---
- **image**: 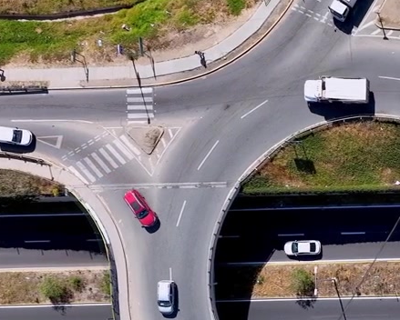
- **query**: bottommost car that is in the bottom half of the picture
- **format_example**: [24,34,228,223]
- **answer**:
[158,281,178,314]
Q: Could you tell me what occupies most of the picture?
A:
paved ground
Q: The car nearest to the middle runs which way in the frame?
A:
on a diagonal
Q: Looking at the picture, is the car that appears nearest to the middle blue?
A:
No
